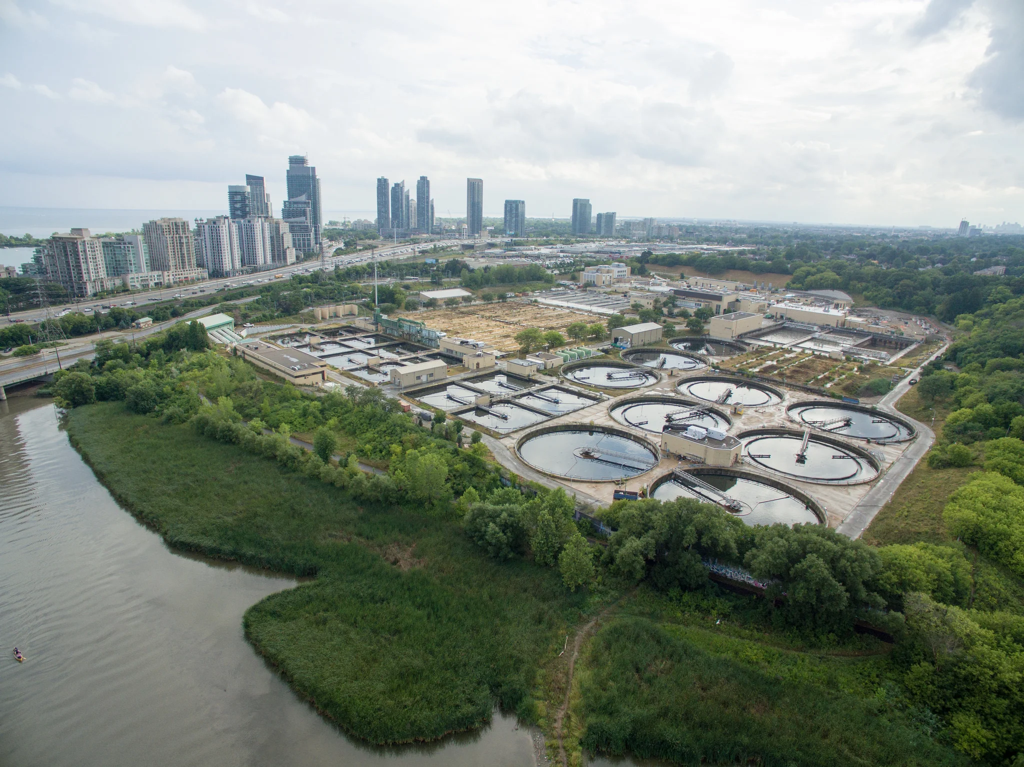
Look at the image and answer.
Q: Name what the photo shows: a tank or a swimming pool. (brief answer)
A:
tank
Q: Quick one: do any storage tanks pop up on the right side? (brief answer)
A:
Yes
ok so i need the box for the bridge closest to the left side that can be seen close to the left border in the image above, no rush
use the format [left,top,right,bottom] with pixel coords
[0,336,128,401]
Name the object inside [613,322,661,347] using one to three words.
shed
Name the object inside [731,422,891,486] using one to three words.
storage tank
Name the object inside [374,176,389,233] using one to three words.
building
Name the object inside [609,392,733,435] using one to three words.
storage tank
